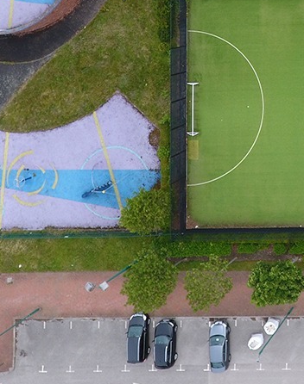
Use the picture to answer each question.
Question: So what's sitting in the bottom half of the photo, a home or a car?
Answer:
car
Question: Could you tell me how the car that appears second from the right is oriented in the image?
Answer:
from top to bottom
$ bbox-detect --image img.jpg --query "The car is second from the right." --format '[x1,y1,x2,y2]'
[150,318,176,369]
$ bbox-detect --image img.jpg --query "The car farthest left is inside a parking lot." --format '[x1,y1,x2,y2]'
[123,314,150,362]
